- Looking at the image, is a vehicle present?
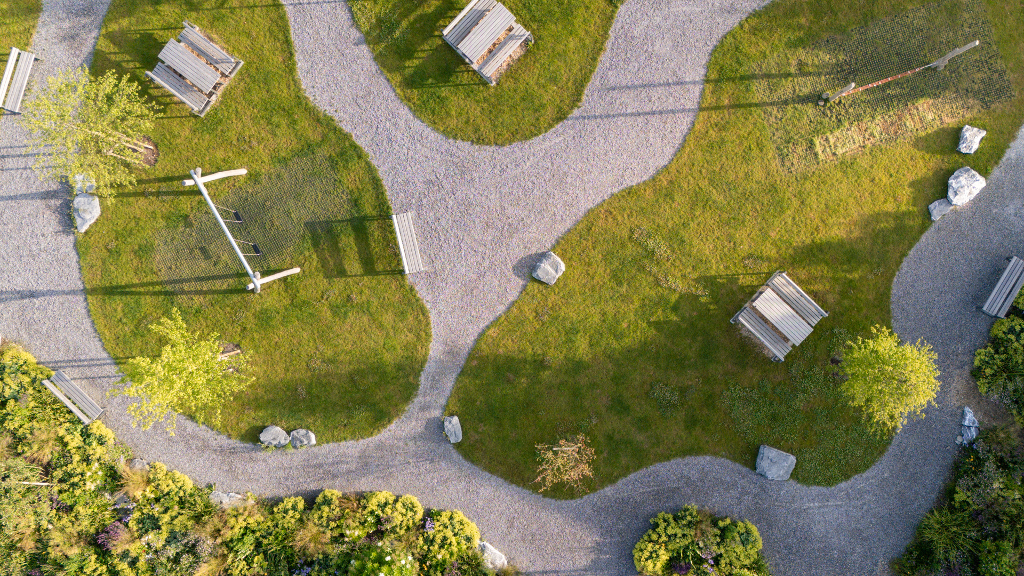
No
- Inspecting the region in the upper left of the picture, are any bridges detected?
No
